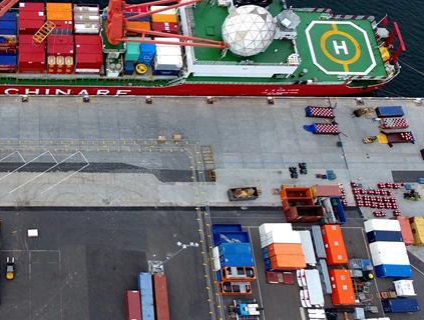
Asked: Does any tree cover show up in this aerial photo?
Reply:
No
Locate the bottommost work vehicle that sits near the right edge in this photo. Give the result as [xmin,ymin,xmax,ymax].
[402,188,424,200]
